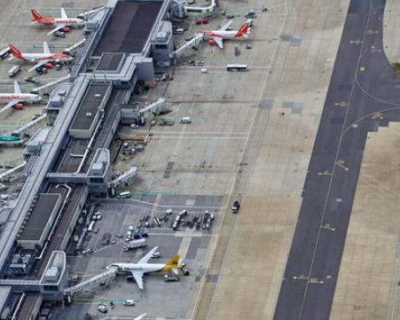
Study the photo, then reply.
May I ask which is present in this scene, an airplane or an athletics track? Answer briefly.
airplane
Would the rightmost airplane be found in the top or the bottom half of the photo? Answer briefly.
top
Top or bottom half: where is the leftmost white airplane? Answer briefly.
top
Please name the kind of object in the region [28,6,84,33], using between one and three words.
airplane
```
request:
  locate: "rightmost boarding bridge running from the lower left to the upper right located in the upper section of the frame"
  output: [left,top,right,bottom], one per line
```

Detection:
[169,32,207,60]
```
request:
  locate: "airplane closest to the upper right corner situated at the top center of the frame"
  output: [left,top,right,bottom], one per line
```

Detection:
[205,16,256,45]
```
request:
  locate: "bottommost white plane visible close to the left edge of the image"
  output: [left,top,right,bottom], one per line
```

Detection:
[0,78,39,108]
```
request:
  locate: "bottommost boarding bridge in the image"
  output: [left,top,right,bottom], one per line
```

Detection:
[60,265,122,300]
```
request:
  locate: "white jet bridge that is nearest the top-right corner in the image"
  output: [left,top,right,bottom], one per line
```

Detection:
[184,0,217,16]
